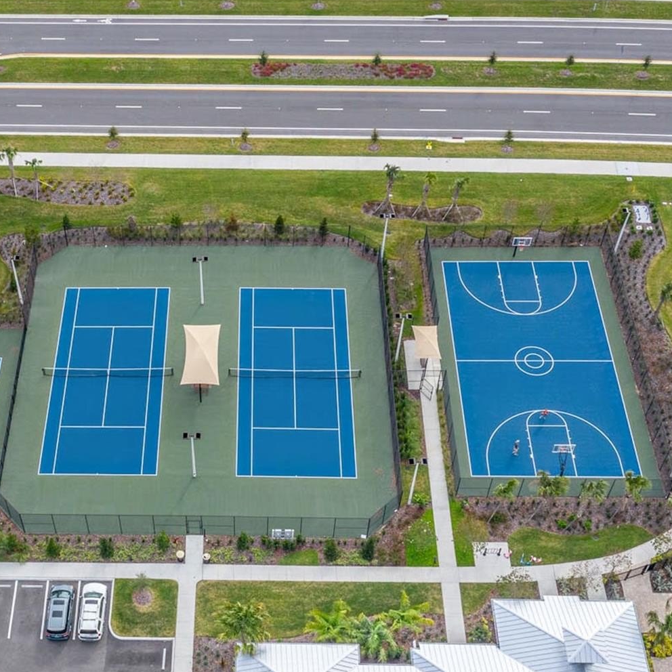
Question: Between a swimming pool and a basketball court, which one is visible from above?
basketball court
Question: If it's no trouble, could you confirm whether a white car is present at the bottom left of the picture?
Yes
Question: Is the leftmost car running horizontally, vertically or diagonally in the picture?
vertically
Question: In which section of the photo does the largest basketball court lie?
right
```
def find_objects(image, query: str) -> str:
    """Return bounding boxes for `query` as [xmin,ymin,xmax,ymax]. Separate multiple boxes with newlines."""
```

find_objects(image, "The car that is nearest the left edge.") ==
[46,585,74,641]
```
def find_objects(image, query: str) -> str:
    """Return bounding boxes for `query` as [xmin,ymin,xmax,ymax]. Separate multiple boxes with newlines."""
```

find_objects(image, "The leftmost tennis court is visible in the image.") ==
[38,287,174,474]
